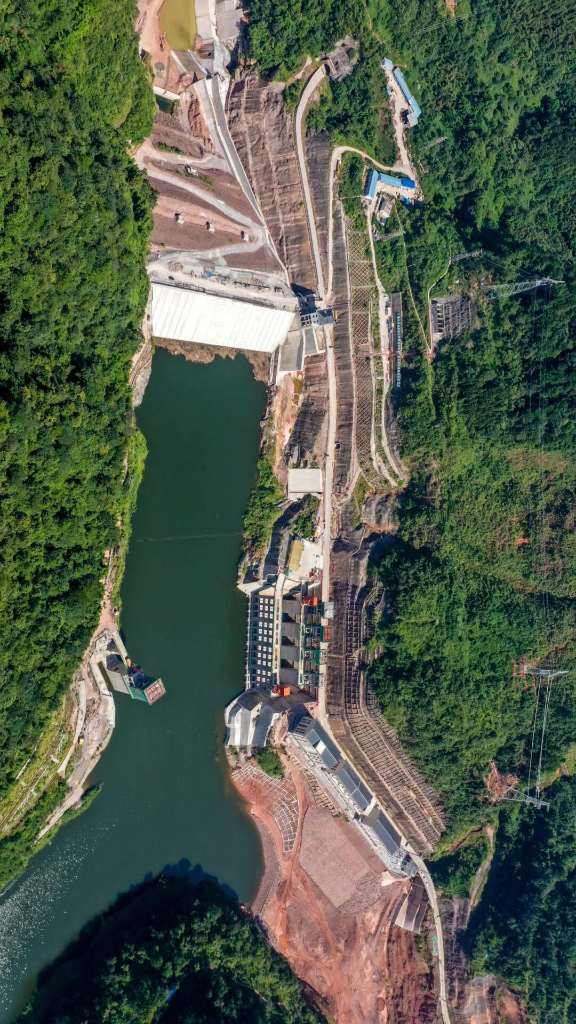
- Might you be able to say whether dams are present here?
Yes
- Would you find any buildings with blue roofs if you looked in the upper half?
Yes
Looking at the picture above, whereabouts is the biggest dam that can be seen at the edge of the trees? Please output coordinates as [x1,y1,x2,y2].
[132,113,298,352]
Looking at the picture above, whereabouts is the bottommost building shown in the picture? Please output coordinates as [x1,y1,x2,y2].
[290,715,401,859]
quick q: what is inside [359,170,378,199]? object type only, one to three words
building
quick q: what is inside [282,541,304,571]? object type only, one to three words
building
